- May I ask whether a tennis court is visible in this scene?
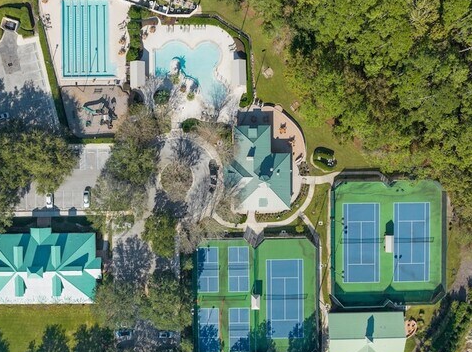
Yes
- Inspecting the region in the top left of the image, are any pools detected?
Yes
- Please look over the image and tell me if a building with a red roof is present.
No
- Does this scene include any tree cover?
Yes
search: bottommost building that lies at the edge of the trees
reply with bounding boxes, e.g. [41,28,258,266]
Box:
[327,311,408,352]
